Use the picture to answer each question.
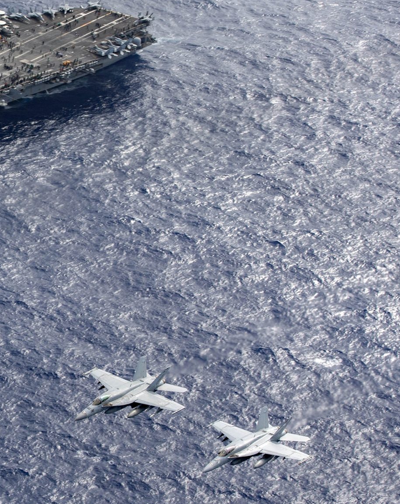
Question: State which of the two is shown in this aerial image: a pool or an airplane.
airplane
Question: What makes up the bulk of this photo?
water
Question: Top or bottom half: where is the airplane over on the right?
bottom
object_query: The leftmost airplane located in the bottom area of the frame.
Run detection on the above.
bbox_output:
[74,355,188,421]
